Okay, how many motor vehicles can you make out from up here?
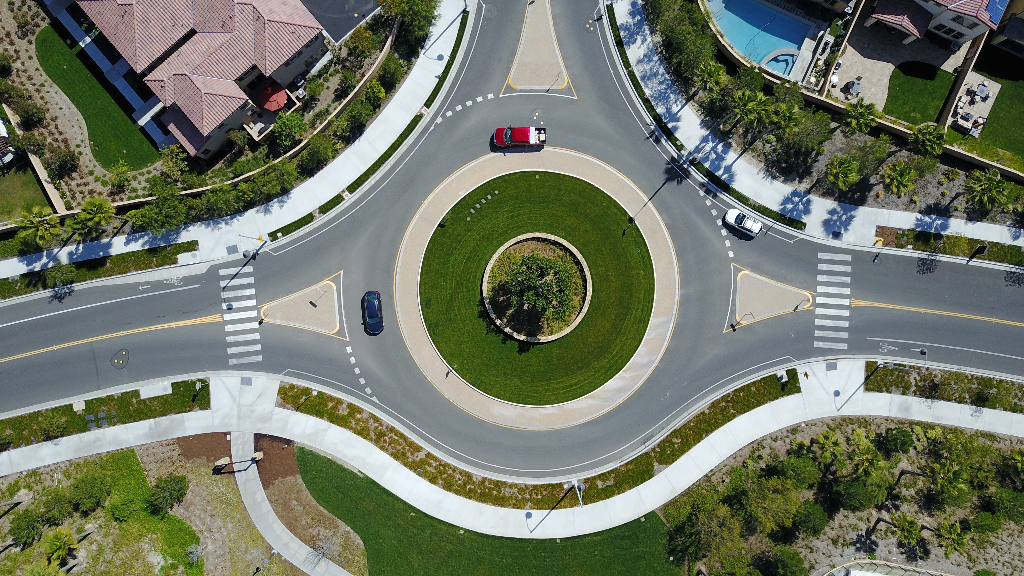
3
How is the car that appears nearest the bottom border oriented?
up and down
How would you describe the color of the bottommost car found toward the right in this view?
white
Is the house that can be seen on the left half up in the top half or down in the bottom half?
top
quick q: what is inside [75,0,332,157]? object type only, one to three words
house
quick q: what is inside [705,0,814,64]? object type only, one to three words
swimming pool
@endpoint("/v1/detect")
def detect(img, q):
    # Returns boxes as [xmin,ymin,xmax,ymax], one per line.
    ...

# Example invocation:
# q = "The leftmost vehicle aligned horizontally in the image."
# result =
[491,122,549,147]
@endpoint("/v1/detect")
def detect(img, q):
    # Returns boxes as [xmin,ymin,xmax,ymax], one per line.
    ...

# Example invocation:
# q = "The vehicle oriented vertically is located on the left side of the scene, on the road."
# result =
[362,290,382,334]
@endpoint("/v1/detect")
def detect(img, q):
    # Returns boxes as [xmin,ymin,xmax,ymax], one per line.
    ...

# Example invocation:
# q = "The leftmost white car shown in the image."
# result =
[722,208,767,238]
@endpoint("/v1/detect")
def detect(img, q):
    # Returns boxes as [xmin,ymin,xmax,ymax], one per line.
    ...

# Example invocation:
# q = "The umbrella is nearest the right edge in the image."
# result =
[261,87,289,116]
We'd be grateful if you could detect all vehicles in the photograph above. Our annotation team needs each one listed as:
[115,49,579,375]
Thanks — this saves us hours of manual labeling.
[722,208,767,238]
[491,122,549,147]
[362,290,382,334]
